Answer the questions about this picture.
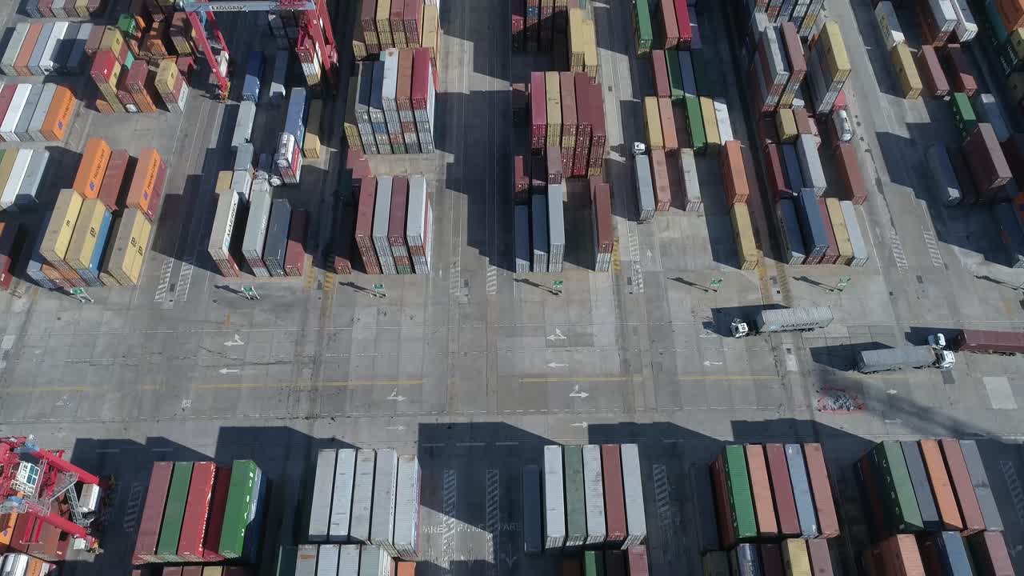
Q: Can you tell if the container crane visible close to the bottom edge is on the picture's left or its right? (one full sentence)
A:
The container crane visible close to the bottom edge sits on the left side.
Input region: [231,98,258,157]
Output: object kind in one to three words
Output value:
shipping container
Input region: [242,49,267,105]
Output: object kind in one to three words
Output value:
shipping container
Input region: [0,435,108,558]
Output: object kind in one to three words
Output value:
container crane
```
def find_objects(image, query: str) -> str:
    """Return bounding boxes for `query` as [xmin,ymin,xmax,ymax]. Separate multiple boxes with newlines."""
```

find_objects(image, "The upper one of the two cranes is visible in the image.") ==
[170,0,342,104]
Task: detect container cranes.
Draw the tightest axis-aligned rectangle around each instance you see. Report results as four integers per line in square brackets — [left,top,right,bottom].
[0,435,108,558]
[170,0,342,104]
